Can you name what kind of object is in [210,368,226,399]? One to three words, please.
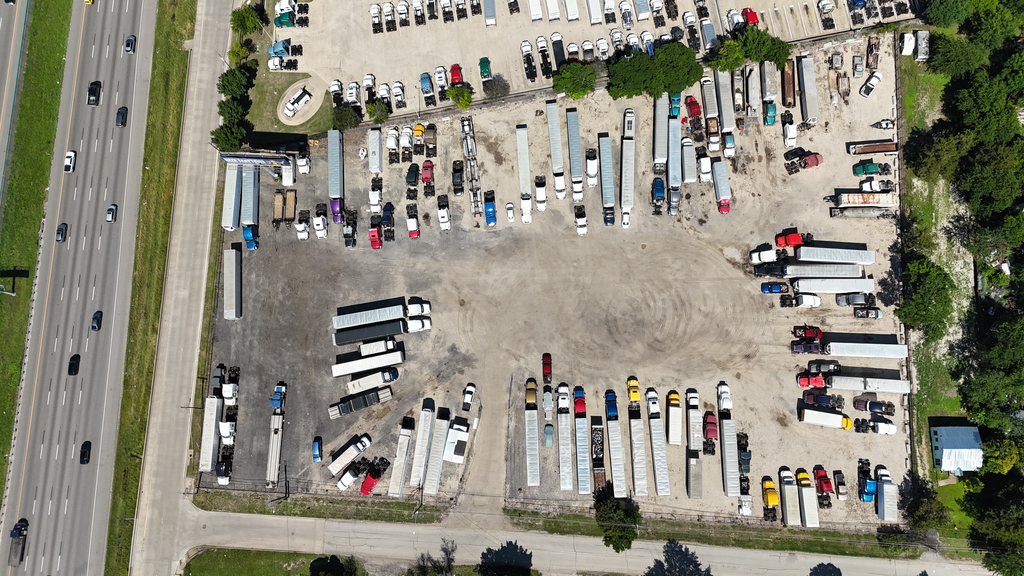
vehicle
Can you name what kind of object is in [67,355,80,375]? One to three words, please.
vehicle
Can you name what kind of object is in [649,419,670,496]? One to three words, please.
trailer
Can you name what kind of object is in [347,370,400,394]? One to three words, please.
truck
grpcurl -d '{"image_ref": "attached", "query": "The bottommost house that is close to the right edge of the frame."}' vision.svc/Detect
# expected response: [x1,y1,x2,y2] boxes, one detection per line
[930,426,983,481]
